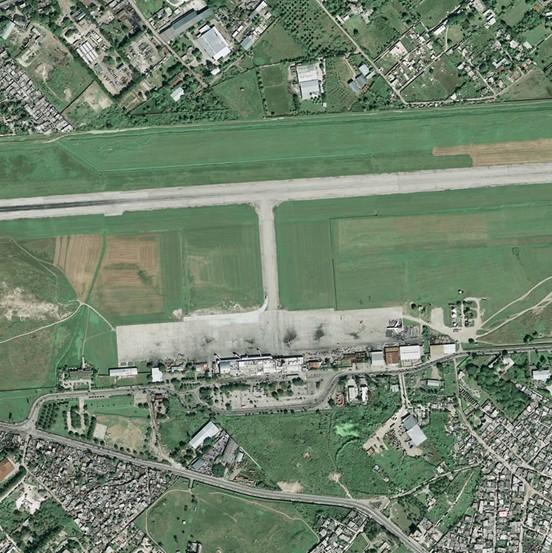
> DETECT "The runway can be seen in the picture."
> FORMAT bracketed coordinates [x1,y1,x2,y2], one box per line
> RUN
[0,163,552,220]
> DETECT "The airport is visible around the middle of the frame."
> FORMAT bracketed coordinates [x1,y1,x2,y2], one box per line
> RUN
[0,163,552,362]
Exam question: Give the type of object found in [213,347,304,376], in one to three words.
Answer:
building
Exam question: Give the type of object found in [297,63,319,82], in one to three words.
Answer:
building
